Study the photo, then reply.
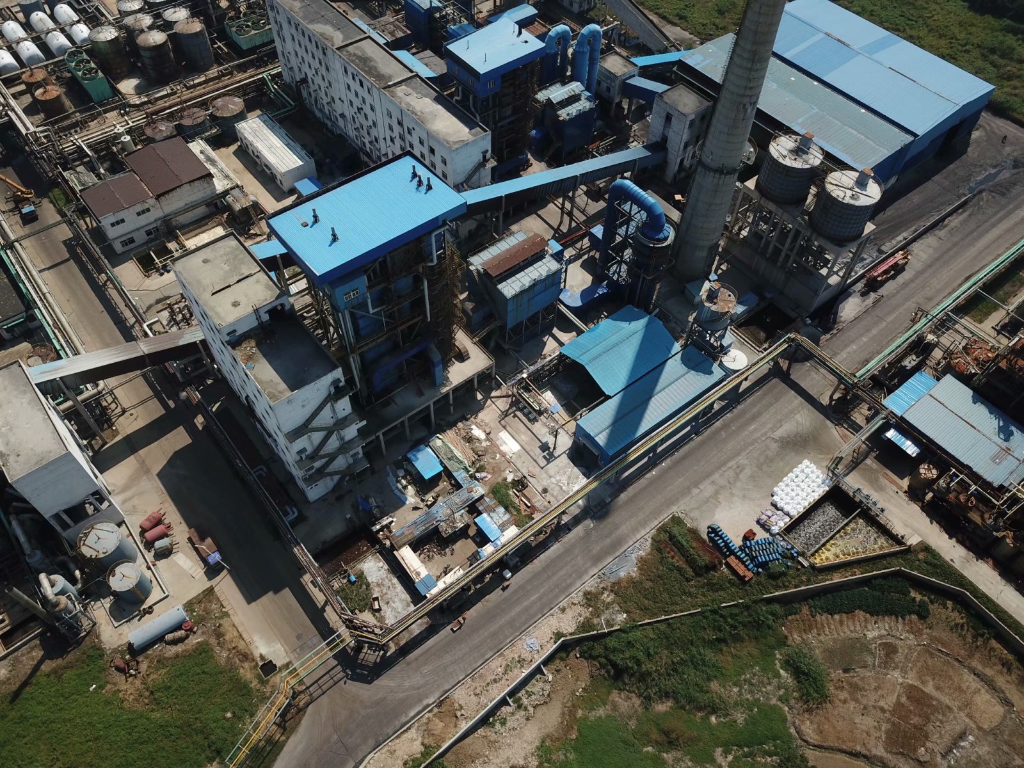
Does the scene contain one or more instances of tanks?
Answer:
Yes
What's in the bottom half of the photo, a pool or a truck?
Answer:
truck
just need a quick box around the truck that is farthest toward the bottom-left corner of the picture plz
[186,519,229,577]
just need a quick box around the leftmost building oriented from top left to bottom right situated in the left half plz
[0,357,126,550]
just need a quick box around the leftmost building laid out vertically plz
[0,272,32,344]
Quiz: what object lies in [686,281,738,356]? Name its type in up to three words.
storage tank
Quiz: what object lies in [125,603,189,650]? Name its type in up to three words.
storage tank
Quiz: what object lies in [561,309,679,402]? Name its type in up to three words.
shed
